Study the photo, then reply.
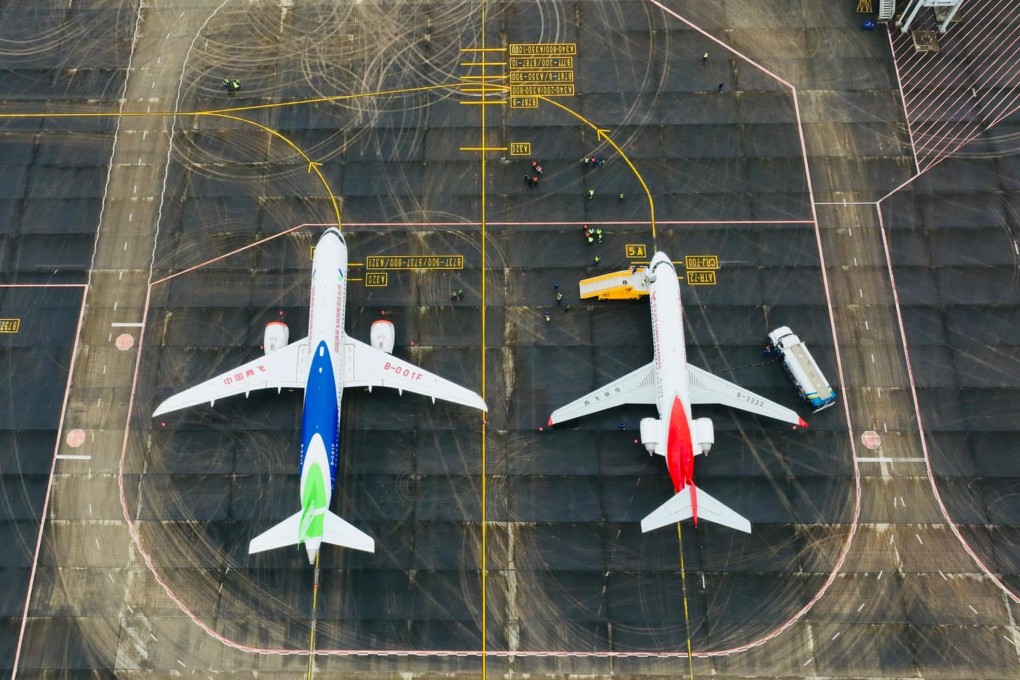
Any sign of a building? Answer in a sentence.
No, there is no building in the image.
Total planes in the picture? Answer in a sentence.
In total, 2 planes can be seen.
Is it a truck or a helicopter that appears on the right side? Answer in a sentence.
Looking on the right side, you will find a truck.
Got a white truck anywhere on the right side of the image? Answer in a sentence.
Yes, looking on the right side of the image, one can make out a white truck.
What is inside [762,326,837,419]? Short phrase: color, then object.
white truck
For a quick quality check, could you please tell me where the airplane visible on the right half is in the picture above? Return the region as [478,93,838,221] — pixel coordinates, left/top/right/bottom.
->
[550,251,808,533]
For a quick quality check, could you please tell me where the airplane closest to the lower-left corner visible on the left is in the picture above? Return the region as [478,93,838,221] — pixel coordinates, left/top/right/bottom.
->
[152,228,488,564]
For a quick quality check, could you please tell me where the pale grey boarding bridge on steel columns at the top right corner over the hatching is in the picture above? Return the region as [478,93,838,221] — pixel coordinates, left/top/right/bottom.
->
[894,0,967,35]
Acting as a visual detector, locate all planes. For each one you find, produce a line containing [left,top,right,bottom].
[550,251,808,533]
[152,228,488,564]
